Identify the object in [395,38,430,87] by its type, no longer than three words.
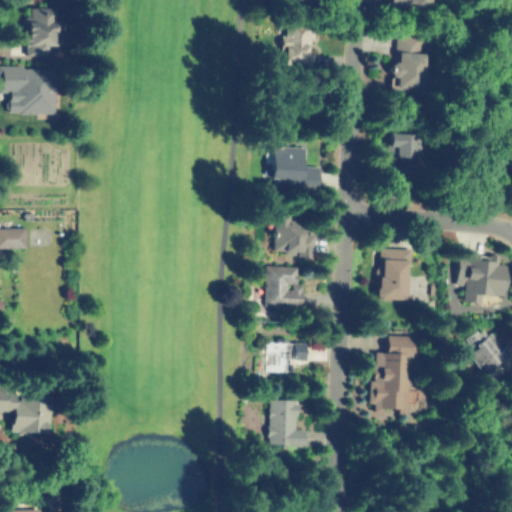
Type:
house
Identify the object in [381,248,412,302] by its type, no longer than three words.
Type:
house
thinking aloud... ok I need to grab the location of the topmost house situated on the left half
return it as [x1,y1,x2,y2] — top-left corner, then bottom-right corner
[27,8,59,57]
